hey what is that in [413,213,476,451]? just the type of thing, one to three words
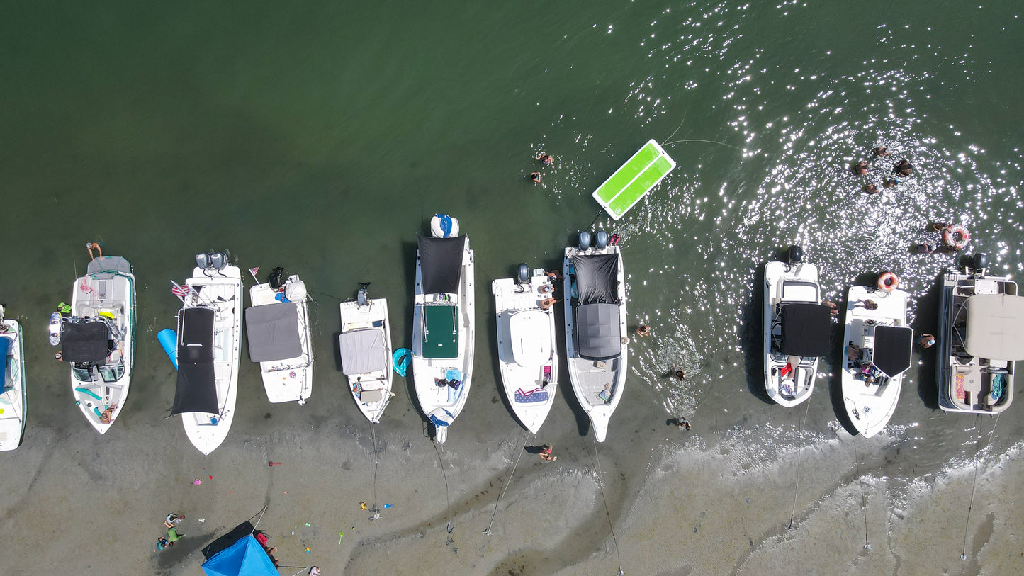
boat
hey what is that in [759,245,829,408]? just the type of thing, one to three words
boat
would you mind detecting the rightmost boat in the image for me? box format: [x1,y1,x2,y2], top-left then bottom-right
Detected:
[937,253,1024,418]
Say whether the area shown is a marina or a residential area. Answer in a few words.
marina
